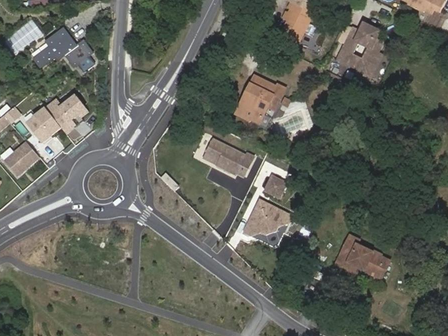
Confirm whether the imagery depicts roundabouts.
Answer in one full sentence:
Yes, the frame does contain a roundabout.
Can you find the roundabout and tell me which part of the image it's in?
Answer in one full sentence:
The roundabout is located in the left region of the scene.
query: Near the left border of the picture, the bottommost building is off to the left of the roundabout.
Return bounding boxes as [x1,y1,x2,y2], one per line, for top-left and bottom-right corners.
[2,142,40,178]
